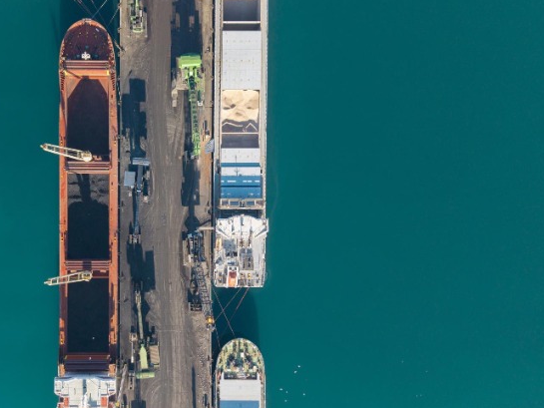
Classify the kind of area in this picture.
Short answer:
port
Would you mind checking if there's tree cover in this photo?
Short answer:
No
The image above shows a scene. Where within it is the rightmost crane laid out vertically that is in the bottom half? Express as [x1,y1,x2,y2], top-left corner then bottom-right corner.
[182,228,208,316]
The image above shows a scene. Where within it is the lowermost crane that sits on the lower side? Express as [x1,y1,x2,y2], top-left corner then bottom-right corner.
[130,290,153,373]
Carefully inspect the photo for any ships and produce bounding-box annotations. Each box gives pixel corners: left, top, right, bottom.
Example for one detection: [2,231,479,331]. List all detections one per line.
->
[213,338,266,408]
[212,0,270,288]
[41,16,118,408]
